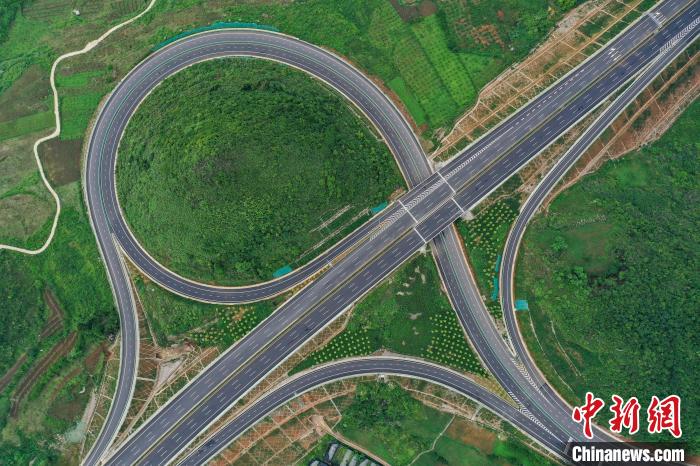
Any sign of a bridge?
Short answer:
Yes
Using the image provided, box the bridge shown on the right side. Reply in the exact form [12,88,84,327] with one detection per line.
[395,173,467,242]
